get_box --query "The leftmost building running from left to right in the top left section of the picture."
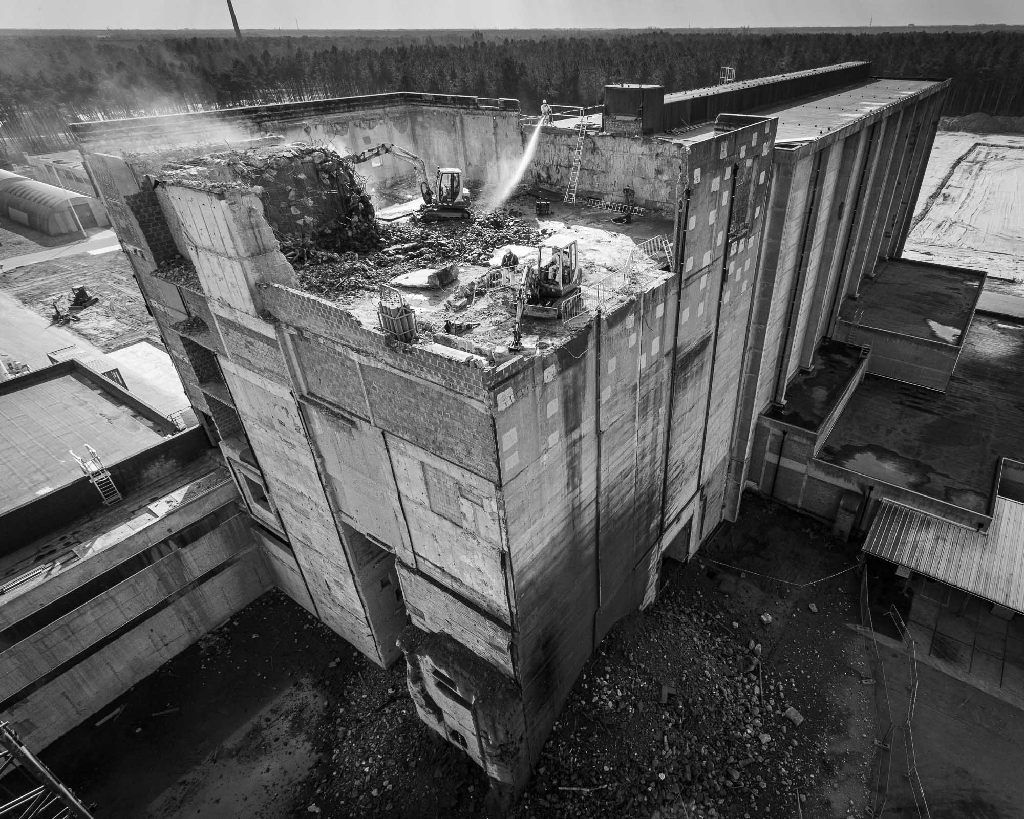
[0,179,110,235]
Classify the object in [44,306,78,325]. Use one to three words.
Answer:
work vehicle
